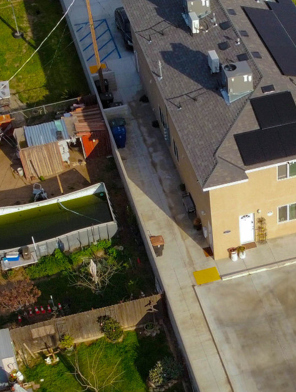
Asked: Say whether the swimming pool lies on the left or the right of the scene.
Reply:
left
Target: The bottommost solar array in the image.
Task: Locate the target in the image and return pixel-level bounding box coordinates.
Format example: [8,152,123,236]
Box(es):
[233,90,296,167]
